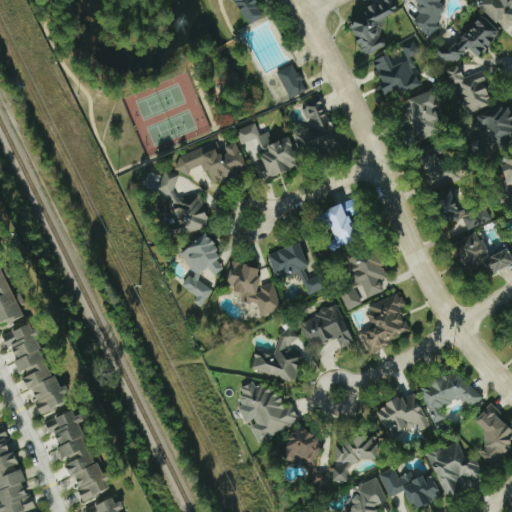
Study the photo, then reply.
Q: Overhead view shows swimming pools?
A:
Yes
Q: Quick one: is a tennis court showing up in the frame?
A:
Yes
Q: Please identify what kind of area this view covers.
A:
residential area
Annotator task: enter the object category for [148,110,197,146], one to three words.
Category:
tennis court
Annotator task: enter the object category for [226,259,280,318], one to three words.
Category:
house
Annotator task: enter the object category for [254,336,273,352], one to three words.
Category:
swimming pool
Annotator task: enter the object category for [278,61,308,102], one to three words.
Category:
building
